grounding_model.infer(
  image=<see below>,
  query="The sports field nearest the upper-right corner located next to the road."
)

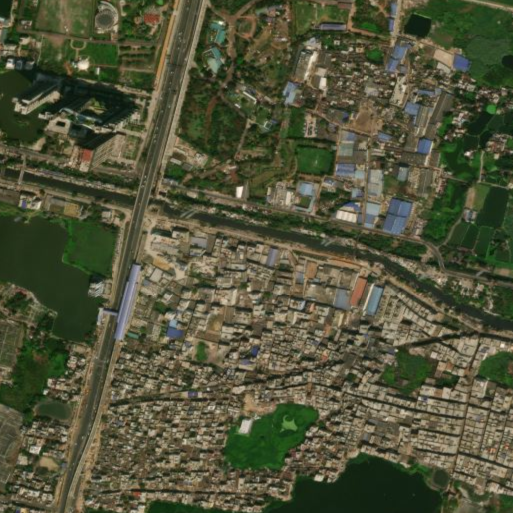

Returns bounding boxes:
[297,146,334,175]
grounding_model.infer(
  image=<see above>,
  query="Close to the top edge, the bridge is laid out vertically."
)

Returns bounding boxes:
[162,0,207,171]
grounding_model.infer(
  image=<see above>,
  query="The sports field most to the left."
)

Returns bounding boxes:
[37,0,92,38]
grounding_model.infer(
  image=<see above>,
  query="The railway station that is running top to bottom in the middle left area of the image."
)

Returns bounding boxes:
[115,265,141,341]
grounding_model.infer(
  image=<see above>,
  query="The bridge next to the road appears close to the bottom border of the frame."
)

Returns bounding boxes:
[67,340,121,513]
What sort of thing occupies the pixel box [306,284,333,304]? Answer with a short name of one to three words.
building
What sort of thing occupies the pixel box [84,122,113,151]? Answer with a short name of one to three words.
building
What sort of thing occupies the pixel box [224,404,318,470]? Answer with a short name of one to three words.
pond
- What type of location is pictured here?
residential area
